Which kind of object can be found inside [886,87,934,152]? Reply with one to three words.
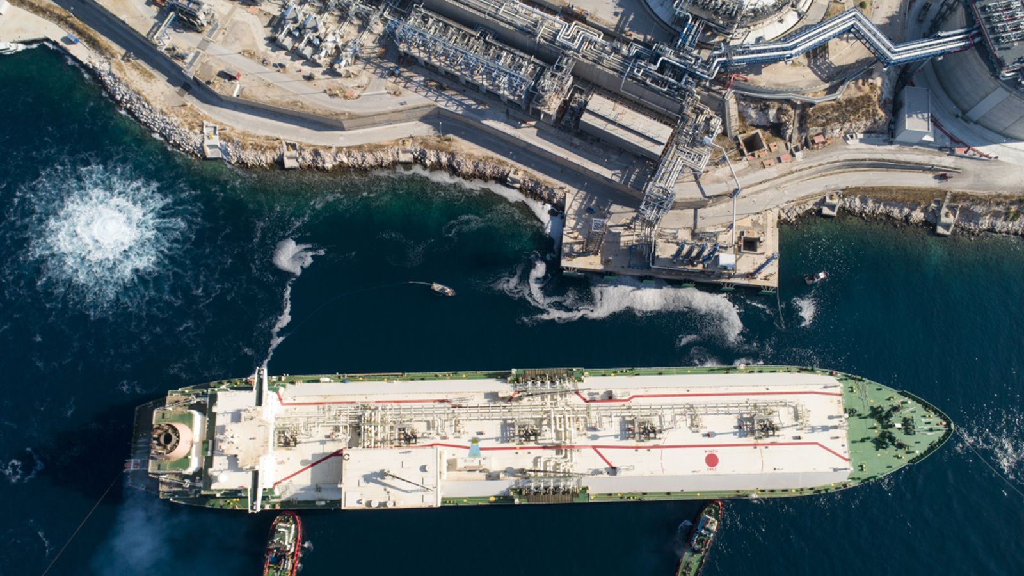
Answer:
building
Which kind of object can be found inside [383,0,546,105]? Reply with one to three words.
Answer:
building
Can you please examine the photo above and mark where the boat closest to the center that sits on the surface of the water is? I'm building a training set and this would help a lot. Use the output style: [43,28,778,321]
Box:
[410,281,456,296]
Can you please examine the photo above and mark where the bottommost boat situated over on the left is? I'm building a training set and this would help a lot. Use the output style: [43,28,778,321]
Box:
[259,511,303,576]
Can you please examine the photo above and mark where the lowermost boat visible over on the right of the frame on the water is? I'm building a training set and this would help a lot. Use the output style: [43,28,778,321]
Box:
[671,500,726,576]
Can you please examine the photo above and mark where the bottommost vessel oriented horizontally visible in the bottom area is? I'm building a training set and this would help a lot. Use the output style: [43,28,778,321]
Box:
[123,363,957,513]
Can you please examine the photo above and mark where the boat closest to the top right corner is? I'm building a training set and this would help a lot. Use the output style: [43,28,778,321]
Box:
[803,271,828,285]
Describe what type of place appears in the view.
port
